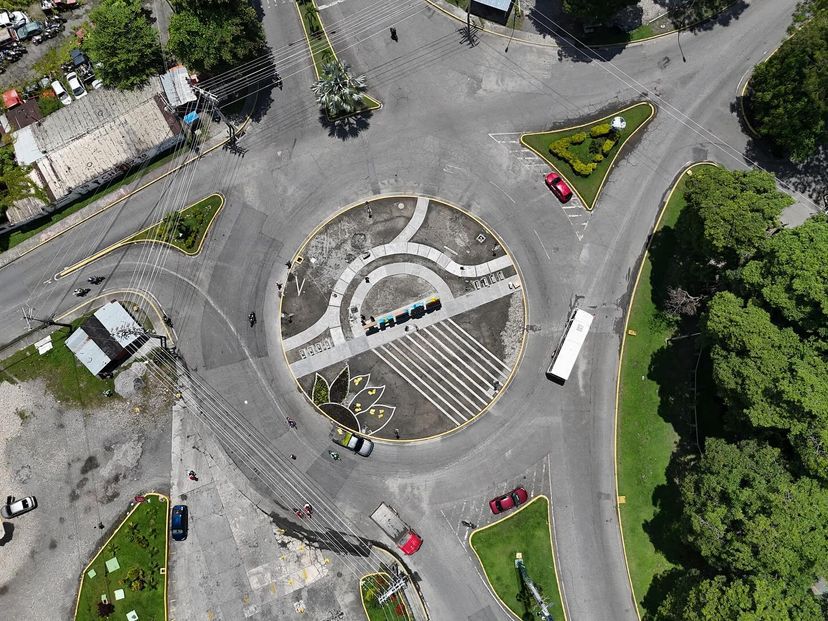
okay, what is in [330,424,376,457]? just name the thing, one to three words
truck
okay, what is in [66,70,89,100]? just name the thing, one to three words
car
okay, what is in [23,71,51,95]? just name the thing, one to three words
car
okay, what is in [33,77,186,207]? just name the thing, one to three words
warehouse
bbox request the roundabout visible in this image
[279,198,527,446]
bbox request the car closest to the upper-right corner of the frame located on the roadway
[544,174,572,204]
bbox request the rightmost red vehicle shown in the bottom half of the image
[488,487,529,513]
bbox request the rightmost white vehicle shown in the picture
[544,308,595,382]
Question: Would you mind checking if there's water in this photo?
No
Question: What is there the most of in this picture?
paved ground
